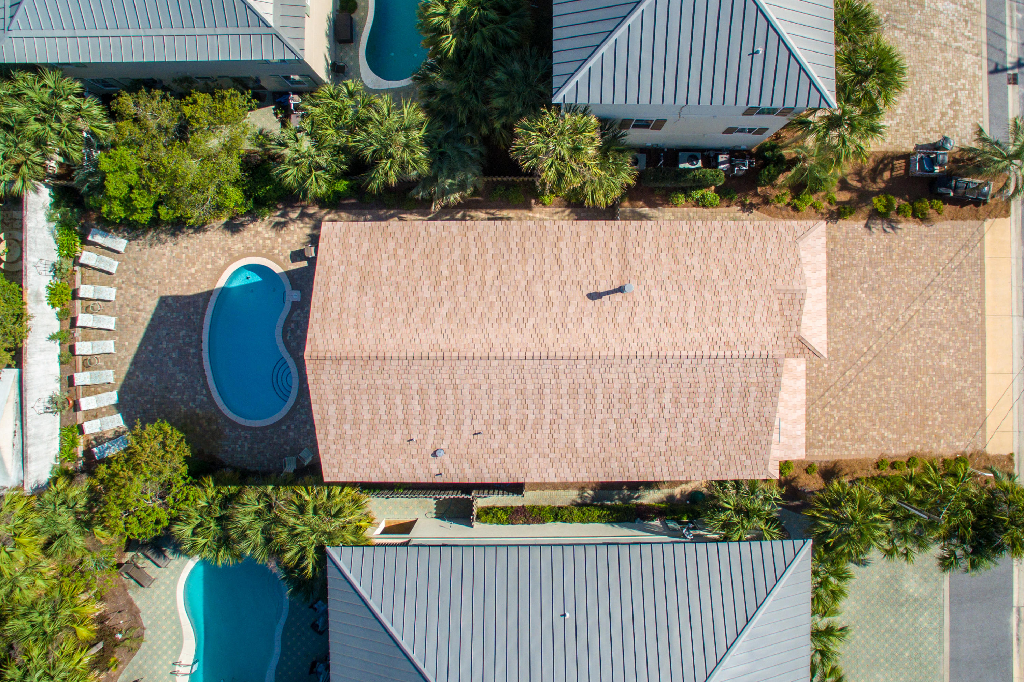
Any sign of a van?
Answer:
No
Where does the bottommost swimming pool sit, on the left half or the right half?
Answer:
left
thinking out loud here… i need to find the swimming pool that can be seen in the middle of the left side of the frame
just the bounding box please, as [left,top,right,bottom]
[201,257,300,427]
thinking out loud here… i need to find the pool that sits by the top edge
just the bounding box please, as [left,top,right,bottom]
[358,0,442,87]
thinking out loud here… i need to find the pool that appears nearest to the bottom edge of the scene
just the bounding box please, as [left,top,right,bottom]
[168,543,291,682]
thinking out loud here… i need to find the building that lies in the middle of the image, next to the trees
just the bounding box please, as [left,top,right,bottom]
[303,219,828,484]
